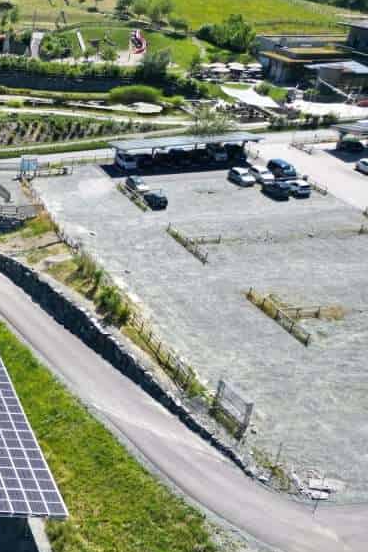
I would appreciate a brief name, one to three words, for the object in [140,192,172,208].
car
